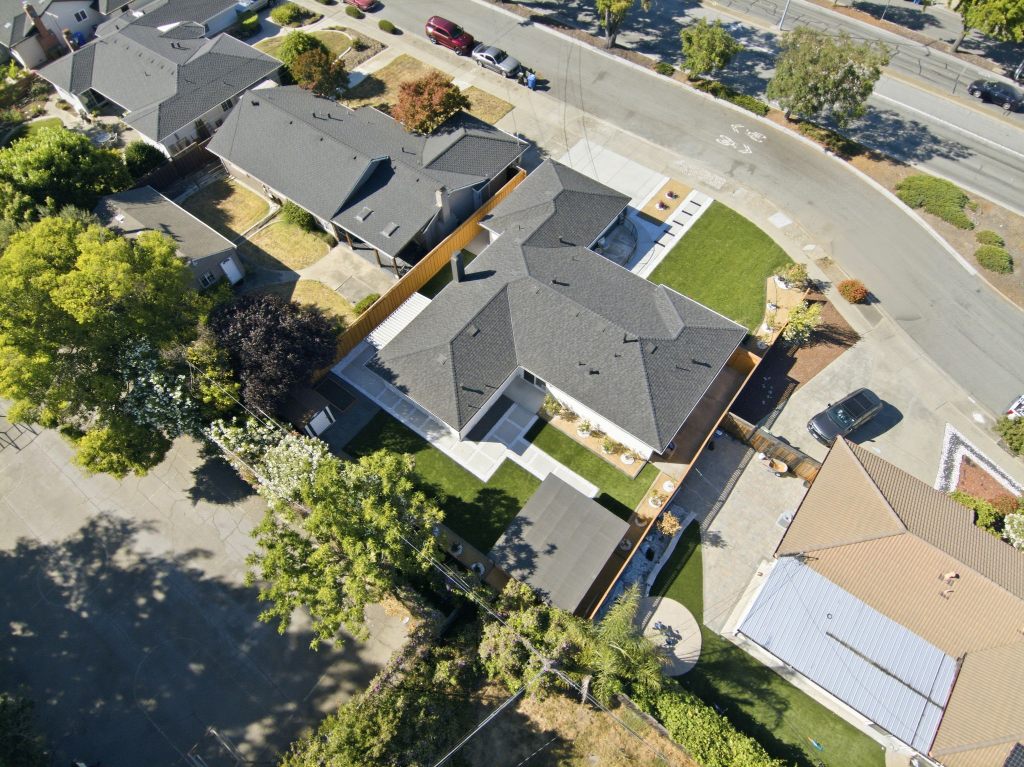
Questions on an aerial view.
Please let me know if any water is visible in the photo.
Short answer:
No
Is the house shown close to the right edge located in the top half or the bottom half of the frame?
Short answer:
bottom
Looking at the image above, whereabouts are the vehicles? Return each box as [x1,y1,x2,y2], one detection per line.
[965,75,1024,111]
[471,44,526,77]
[426,14,480,57]
[234,0,280,15]
[337,0,379,13]
[801,388,889,443]
[1001,400,1024,421]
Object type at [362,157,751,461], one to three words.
house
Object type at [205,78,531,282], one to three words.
house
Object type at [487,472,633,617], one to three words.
building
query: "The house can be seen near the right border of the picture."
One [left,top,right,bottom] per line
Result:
[770,435,1024,767]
